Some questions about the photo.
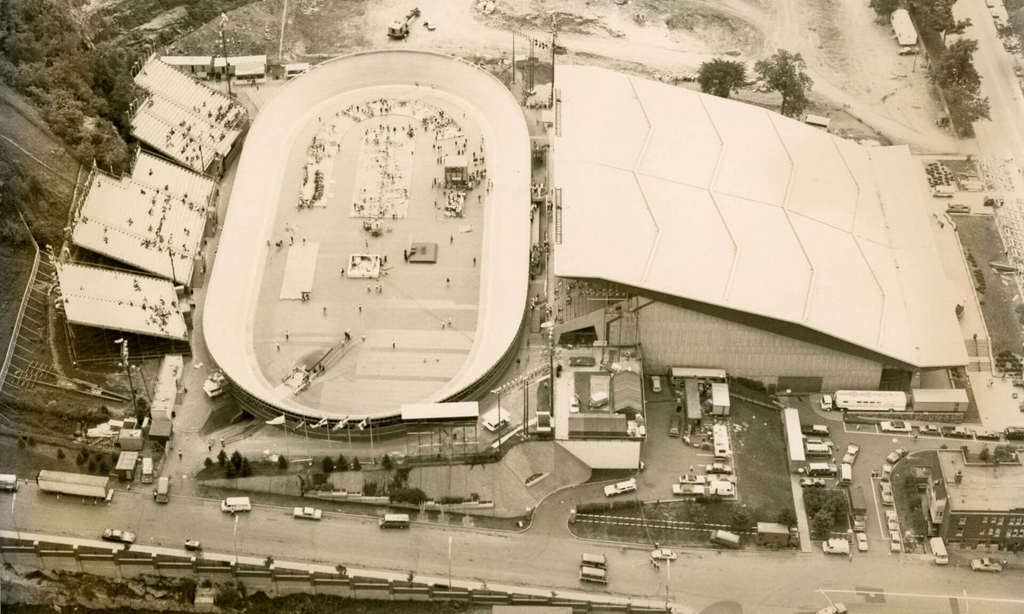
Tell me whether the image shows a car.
Yes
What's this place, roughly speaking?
sports ground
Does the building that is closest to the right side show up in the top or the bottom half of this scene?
bottom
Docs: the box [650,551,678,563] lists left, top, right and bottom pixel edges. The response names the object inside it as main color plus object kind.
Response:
white vehicle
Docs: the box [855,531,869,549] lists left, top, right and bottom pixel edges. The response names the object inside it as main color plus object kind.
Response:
white car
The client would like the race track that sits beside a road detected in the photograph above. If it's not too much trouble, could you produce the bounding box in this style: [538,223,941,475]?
[208,45,533,444]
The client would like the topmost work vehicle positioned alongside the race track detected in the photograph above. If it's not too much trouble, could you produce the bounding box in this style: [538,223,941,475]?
[387,9,436,42]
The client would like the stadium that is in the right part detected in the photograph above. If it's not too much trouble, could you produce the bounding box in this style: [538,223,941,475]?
[546,61,968,391]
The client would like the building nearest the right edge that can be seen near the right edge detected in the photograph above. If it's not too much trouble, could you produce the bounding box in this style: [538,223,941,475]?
[928,449,1024,557]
